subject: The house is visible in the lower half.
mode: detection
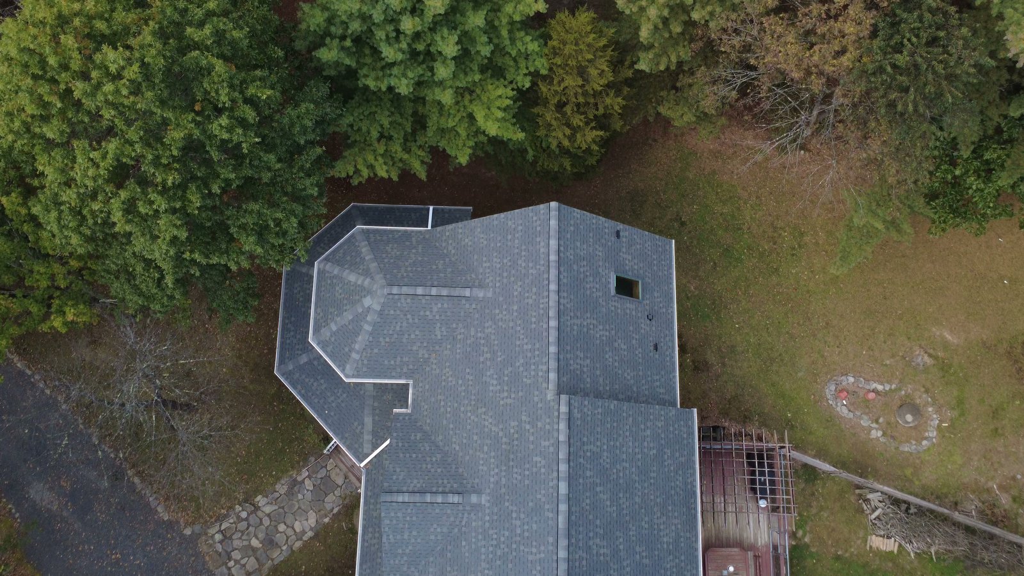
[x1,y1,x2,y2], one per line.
[272,200,705,576]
